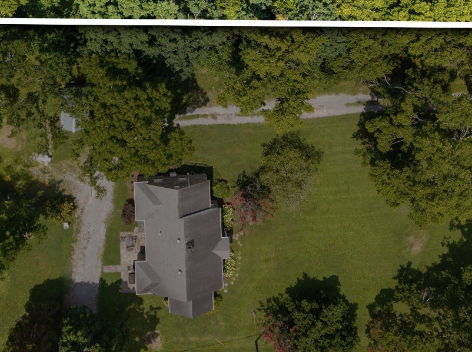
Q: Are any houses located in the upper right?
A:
No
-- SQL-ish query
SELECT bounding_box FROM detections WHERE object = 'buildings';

[134,171,231,318]
[60,95,84,131]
